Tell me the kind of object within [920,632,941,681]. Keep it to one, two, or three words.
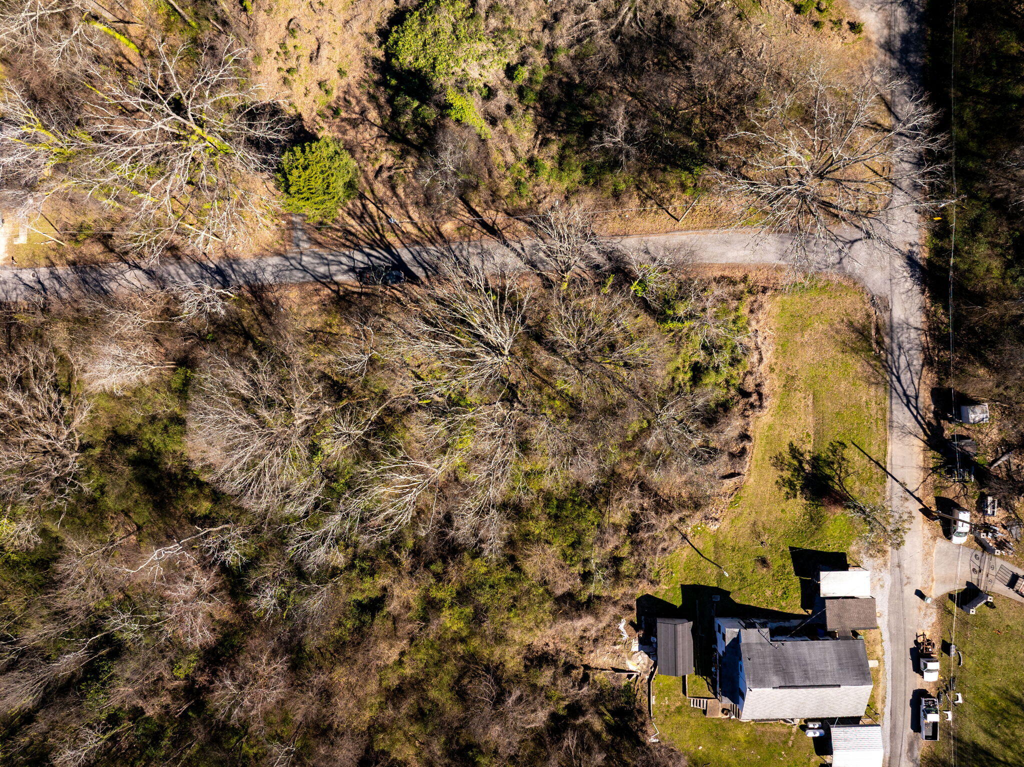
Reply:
truck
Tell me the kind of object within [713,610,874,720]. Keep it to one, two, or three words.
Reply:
house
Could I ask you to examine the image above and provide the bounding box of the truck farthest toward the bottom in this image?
[920,695,941,741]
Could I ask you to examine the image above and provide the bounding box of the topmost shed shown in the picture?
[959,403,989,424]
